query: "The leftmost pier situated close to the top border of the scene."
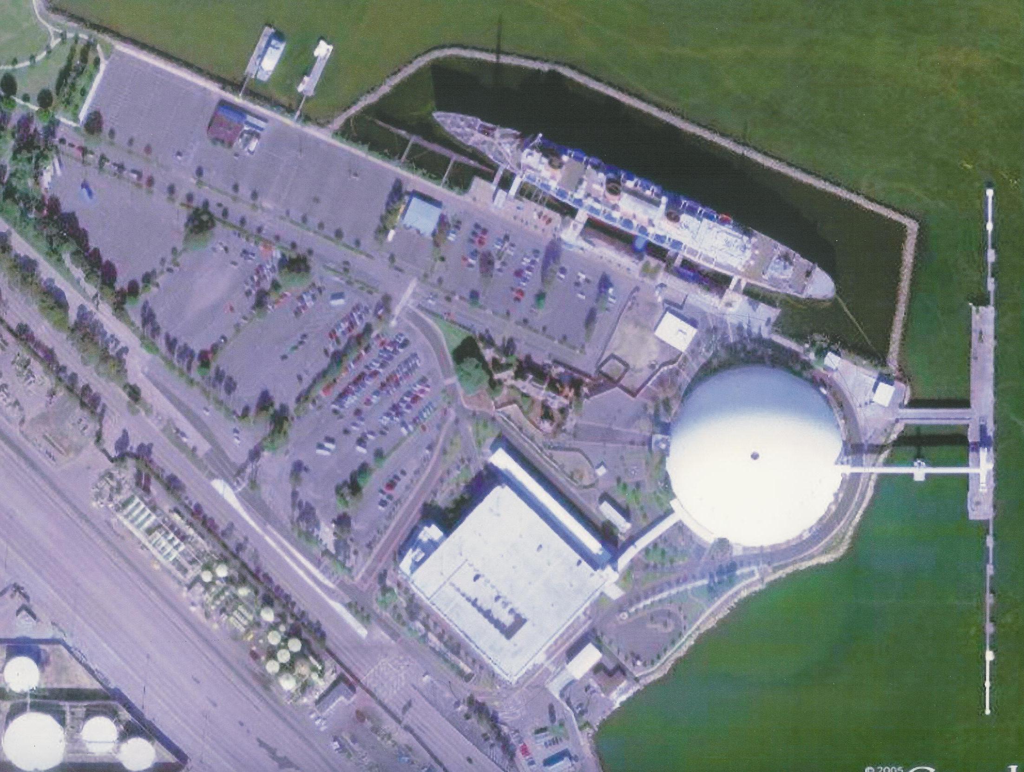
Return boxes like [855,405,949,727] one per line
[243,27,275,90]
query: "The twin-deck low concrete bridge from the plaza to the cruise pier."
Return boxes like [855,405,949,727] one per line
[899,408,972,424]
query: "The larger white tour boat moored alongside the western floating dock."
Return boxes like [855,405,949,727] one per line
[257,38,285,82]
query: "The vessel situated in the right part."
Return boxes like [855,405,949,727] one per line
[432,112,836,298]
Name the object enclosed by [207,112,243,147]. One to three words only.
house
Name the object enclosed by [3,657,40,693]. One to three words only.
storage tank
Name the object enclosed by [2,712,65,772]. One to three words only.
storage tank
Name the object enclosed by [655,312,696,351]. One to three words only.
building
